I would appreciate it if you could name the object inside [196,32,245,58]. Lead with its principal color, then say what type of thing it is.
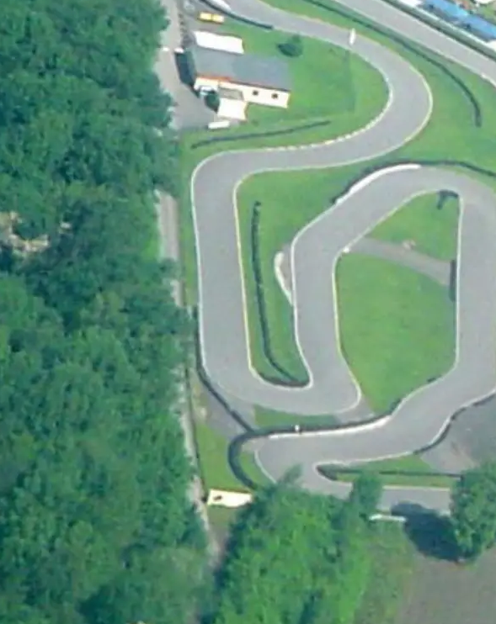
white tent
